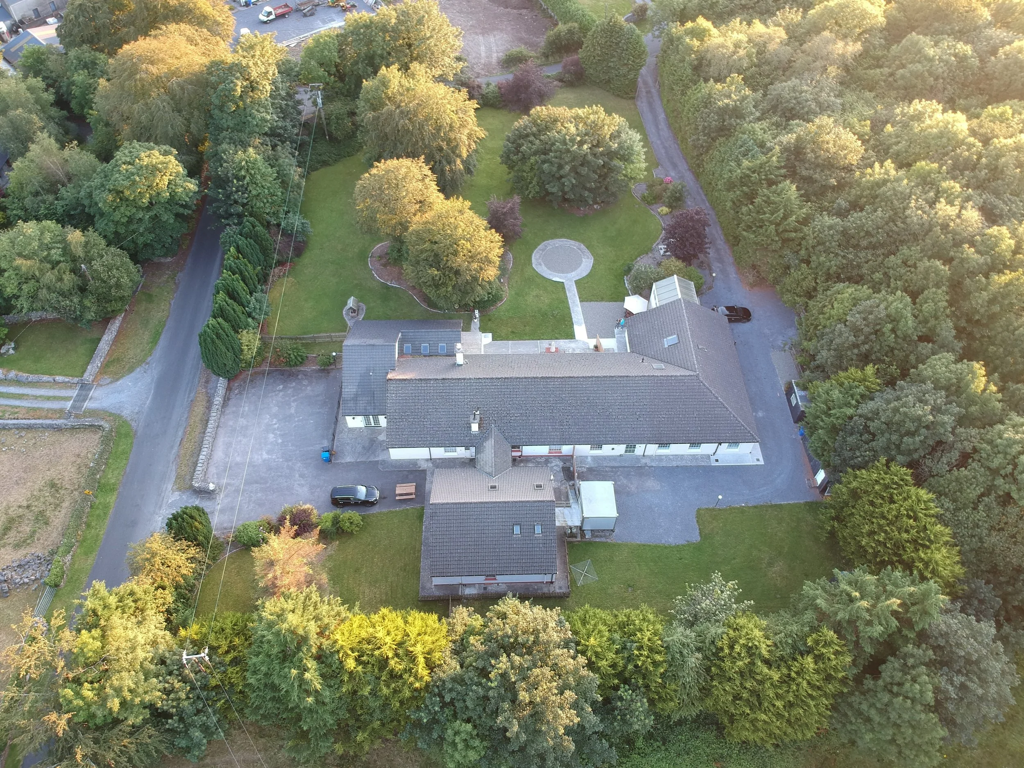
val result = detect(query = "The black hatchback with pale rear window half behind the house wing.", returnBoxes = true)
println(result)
[713,307,753,327]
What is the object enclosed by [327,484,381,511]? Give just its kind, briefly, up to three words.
car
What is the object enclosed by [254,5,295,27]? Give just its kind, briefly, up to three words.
truck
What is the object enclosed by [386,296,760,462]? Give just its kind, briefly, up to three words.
house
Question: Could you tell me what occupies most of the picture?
trees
